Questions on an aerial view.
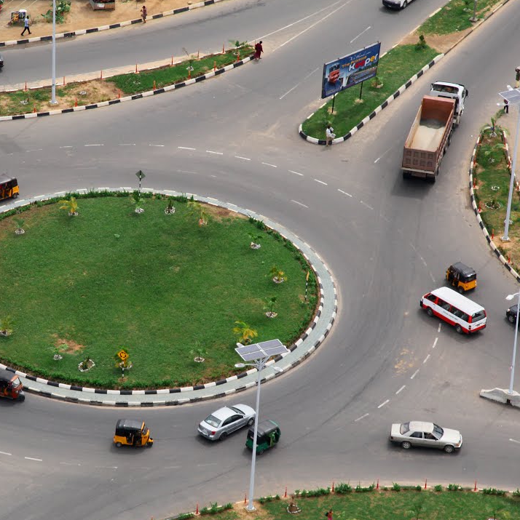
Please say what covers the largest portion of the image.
paved ground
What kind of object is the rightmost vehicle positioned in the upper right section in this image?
truck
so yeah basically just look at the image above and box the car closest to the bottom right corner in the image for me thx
[390,420,467,453]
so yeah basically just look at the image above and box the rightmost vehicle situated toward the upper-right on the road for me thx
[402,86,462,176]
